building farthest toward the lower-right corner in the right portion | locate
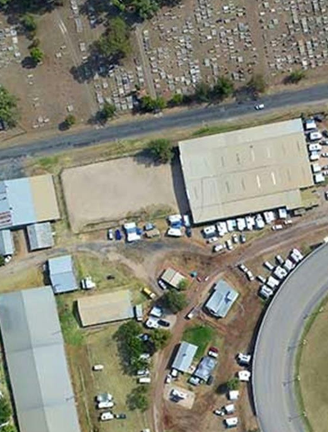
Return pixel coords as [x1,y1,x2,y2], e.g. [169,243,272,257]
[193,354,219,382]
